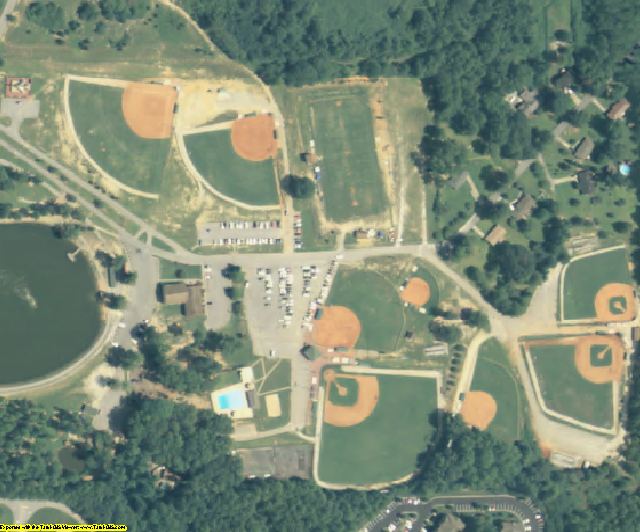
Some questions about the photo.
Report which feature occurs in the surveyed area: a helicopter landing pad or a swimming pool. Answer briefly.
swimming pool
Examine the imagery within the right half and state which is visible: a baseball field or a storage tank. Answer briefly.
baseball field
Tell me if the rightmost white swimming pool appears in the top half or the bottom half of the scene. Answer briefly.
bottom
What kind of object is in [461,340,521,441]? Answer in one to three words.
baseball field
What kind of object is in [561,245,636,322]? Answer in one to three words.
baseball field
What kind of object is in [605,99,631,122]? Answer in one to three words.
house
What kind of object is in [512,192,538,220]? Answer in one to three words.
house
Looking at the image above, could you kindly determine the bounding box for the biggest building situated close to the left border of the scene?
[6,78,31,98]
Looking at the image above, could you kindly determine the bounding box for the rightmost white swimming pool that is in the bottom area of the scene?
[211,383,254,418]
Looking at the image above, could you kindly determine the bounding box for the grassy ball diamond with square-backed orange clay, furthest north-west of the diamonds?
[64,75,176,198]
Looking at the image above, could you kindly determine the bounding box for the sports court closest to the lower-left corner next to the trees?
[242,449,273,478]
